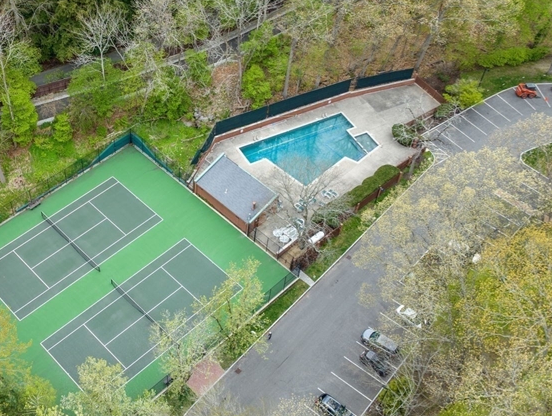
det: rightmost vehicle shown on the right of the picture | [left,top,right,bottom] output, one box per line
[517,81,538,98]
